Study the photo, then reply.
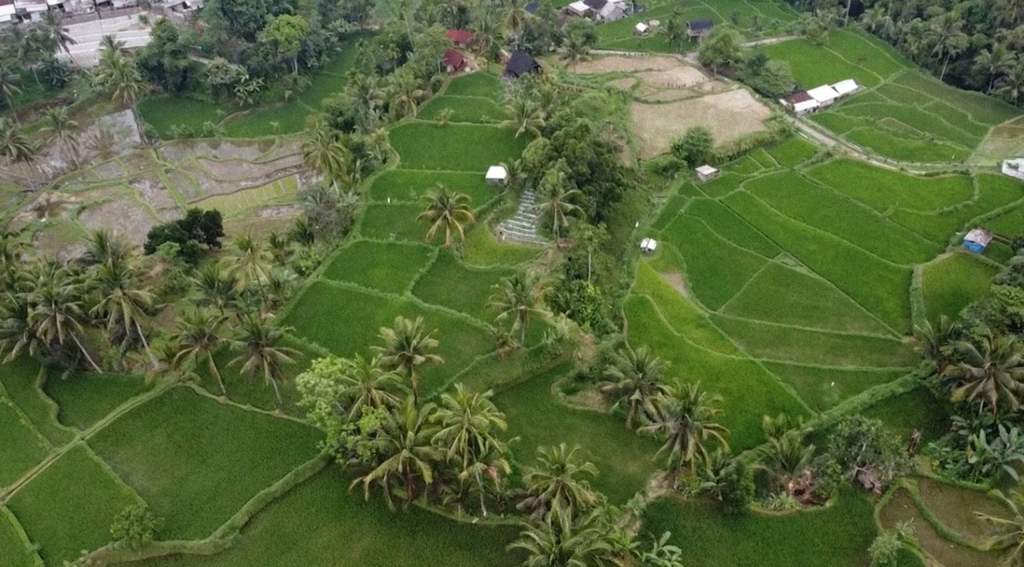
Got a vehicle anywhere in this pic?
No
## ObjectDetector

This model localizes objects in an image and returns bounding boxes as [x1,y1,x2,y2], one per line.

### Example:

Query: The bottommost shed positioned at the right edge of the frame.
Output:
[965,230,995,259]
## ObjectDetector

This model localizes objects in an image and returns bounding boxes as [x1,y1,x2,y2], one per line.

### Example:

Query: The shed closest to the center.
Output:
[487,171,507,192]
